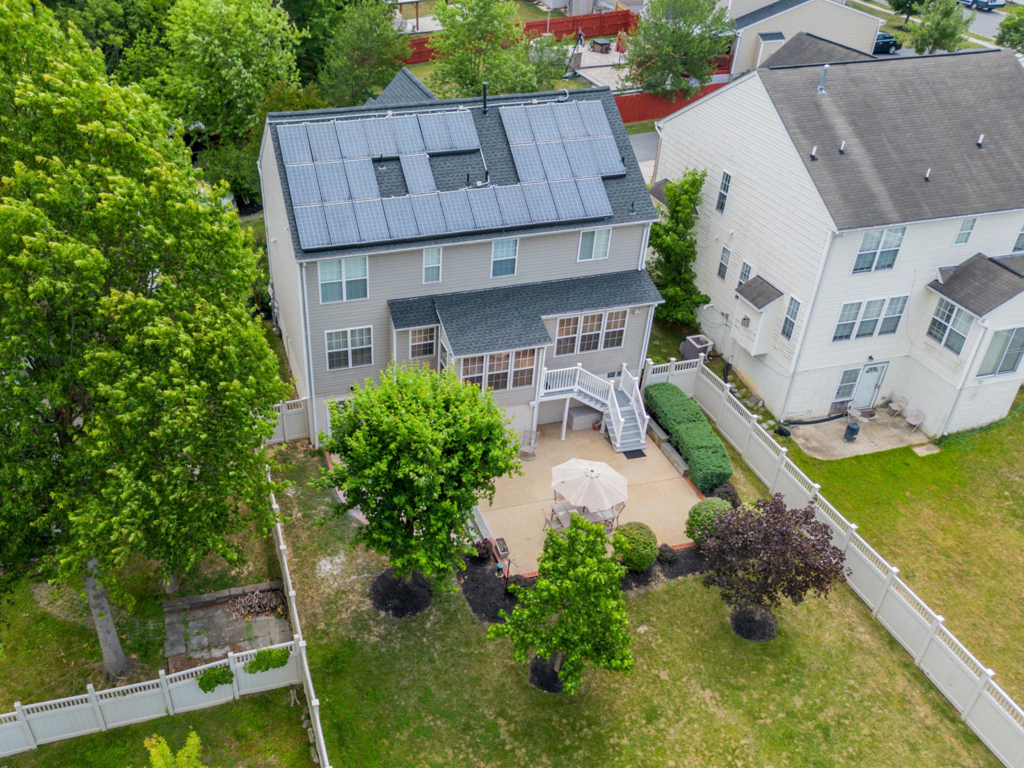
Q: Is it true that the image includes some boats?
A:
No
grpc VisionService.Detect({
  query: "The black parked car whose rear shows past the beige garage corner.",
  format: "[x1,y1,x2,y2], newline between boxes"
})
[872,29,912,52]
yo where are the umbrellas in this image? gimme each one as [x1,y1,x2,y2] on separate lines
[549,459,630,515]
[613,27,626,67]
